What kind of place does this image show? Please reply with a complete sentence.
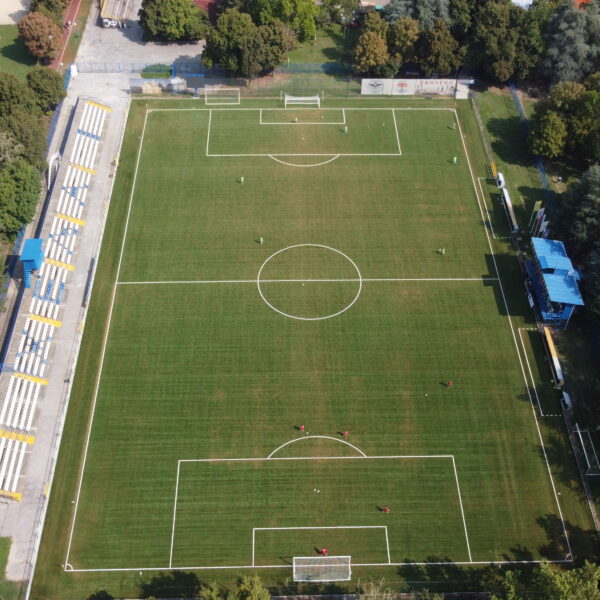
This image shows a sports ground.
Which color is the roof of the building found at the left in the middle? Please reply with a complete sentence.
From above, the roof of the building found at the left in the middle looks blue.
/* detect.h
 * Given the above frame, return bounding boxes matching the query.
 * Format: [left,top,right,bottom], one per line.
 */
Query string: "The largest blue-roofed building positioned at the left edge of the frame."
[19,236,45,294]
